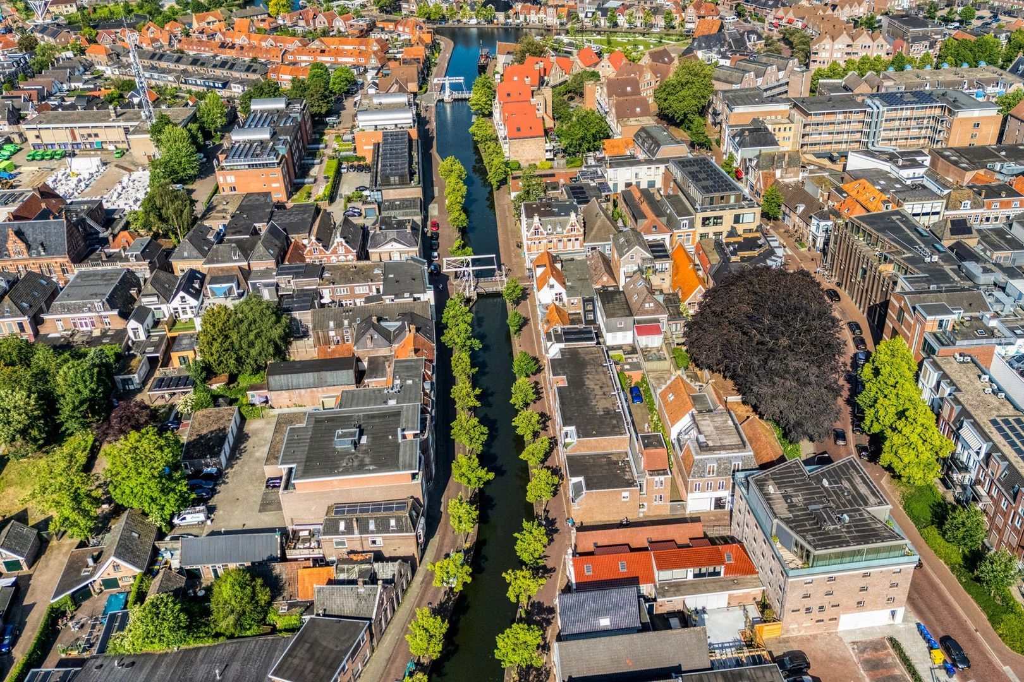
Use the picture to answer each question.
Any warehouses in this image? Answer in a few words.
Yes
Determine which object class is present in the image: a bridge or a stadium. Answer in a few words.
bridge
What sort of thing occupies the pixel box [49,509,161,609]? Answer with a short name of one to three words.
house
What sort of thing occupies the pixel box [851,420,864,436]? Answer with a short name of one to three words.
vehicle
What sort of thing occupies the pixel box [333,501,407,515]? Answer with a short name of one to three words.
solar panel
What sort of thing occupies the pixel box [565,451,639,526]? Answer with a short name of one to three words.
building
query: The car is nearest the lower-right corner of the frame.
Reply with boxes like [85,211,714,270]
[938,635,969,667]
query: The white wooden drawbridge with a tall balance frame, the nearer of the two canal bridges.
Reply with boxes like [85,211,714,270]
[444,253,504,293]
